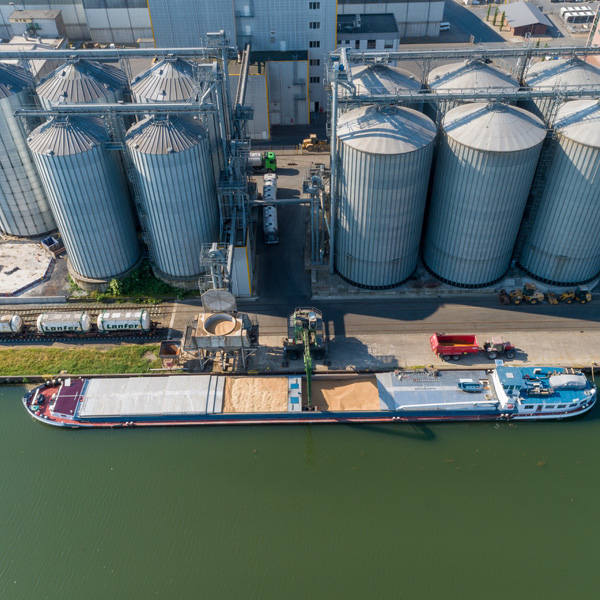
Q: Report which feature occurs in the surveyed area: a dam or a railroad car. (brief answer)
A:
railroad car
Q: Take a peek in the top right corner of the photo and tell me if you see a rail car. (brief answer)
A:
No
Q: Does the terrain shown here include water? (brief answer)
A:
Yes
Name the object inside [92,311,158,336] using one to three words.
rail car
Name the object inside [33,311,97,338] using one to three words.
rail car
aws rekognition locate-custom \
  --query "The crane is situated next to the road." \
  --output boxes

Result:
[281,307,331,410]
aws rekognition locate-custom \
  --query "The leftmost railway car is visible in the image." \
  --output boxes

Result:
[0,312,39,338]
